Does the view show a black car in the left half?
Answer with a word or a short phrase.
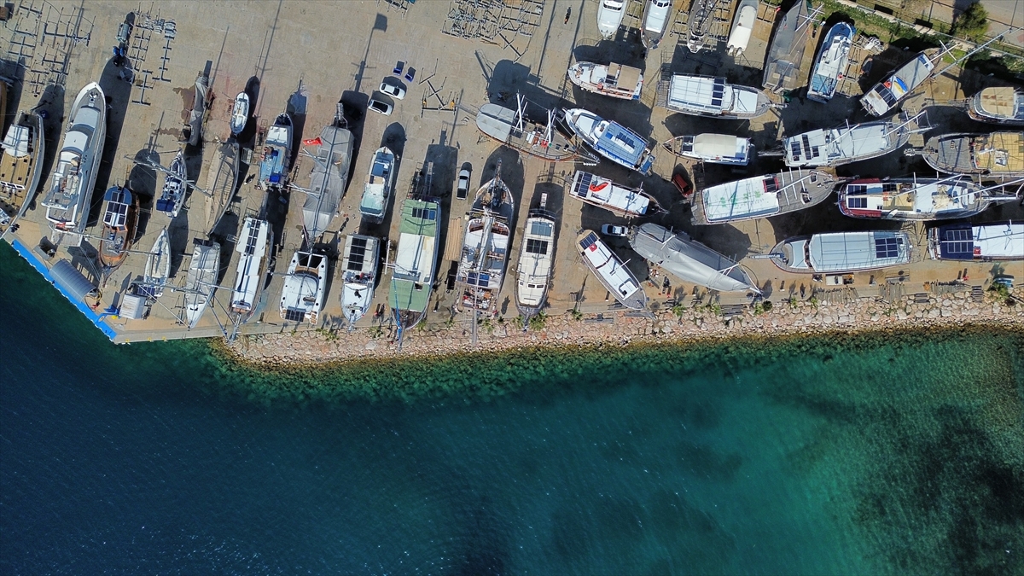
Yes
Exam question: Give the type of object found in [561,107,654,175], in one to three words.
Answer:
boat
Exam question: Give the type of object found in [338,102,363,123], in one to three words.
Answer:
car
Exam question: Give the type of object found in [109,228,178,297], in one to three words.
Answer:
boat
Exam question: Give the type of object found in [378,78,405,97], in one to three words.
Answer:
car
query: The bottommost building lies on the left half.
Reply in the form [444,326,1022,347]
[118,291,149,321]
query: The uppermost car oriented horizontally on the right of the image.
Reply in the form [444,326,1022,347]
[601,222,629,236]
